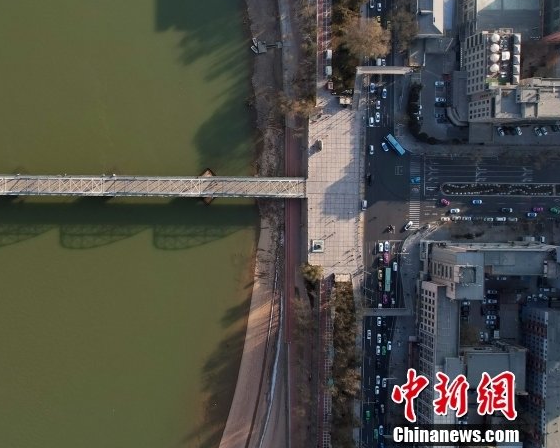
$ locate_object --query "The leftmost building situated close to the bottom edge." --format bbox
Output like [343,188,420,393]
[417,278,466,448]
